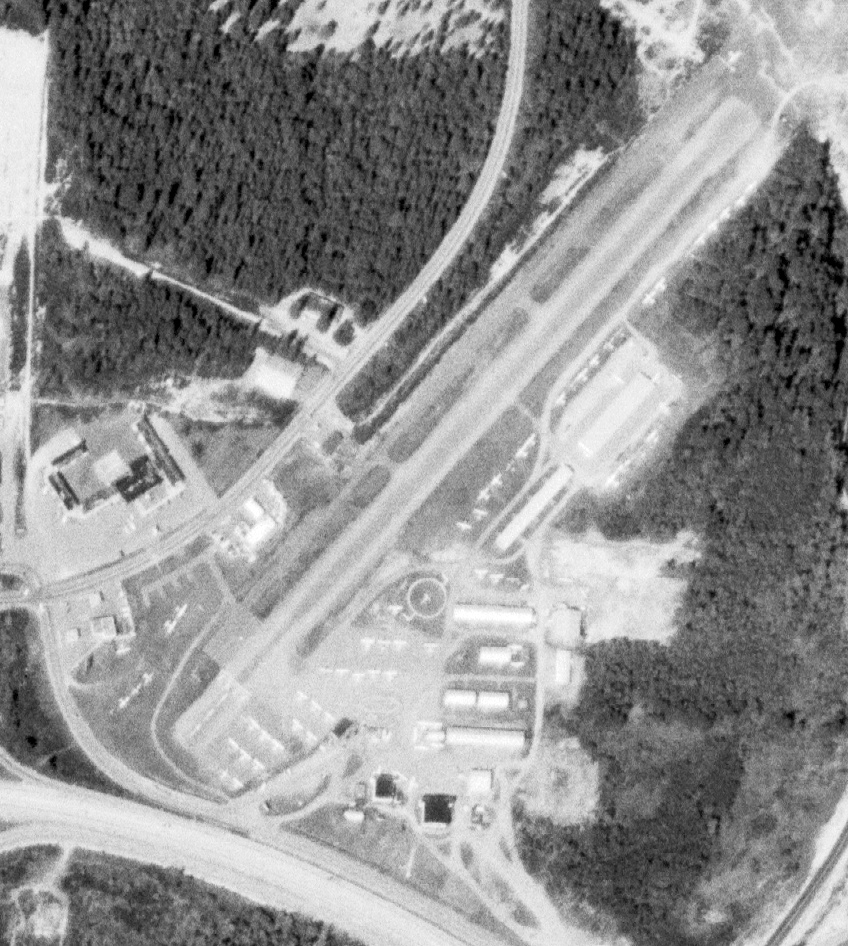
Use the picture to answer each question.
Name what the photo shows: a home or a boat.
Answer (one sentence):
There is a home in the scene.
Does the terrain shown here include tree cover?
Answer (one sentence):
Yes, tree cover can be seen from above here.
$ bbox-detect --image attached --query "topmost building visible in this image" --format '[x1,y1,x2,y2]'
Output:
[286,294,335,333]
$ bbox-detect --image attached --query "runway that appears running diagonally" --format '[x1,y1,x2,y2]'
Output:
[171,100,749,746]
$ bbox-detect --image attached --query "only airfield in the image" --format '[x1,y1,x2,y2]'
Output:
[150,75,778,946]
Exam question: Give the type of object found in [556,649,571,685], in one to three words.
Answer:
building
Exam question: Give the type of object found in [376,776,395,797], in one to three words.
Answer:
building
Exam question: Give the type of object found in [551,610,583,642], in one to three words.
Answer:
hangar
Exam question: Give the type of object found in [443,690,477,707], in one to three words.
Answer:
hangar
